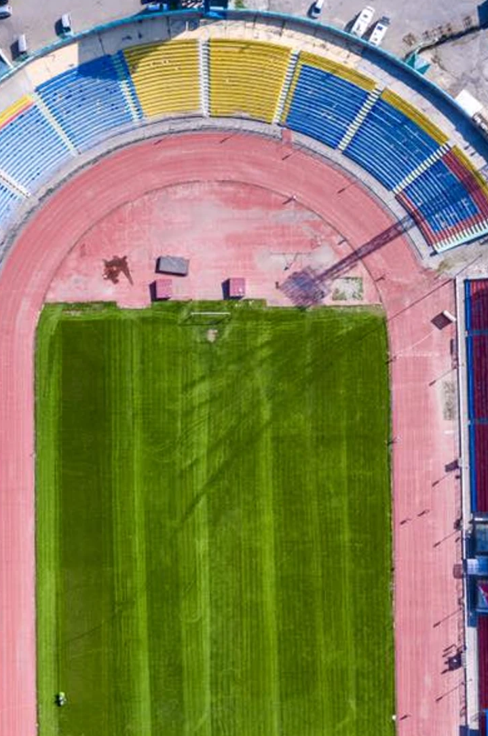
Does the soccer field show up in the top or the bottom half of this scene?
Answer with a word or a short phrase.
bottom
